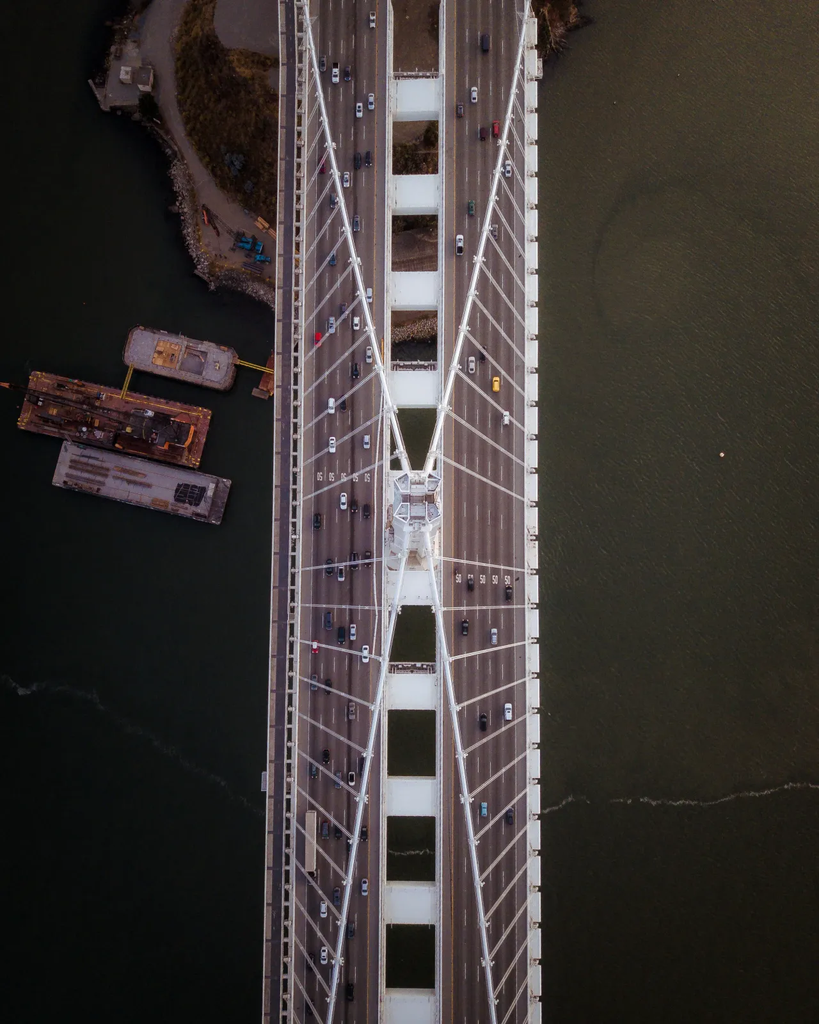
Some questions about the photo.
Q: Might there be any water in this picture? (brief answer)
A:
Yes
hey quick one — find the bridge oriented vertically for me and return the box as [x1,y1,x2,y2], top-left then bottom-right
[262,0,541,1024]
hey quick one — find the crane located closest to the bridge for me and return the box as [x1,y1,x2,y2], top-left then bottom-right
[202,204,255,254]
